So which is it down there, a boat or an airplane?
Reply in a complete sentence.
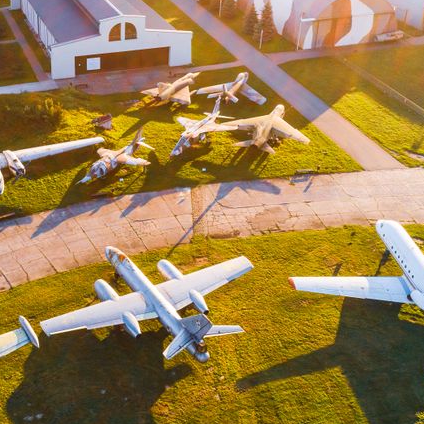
Visible in the photo is an airplane.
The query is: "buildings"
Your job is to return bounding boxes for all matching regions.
[236,0,415,50]
[13,0,195,79]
